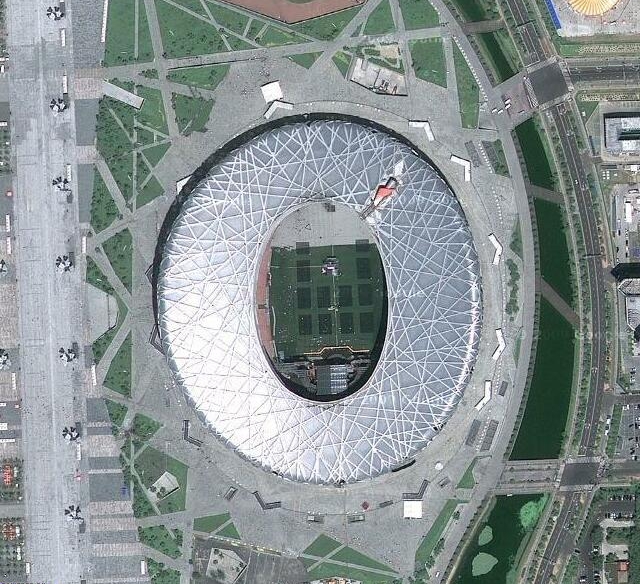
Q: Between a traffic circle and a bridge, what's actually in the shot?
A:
bridge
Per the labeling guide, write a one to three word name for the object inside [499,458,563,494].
bridge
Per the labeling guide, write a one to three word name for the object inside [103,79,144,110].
building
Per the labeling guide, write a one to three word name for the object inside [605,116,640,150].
building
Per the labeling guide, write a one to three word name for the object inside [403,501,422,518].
tent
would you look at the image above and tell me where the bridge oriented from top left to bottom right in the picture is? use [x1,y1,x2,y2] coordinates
[534,276,582,327]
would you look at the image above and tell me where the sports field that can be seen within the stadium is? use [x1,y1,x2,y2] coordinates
[272,200,384,399]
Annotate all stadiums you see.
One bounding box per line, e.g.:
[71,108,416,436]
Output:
[159,121,482,483]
